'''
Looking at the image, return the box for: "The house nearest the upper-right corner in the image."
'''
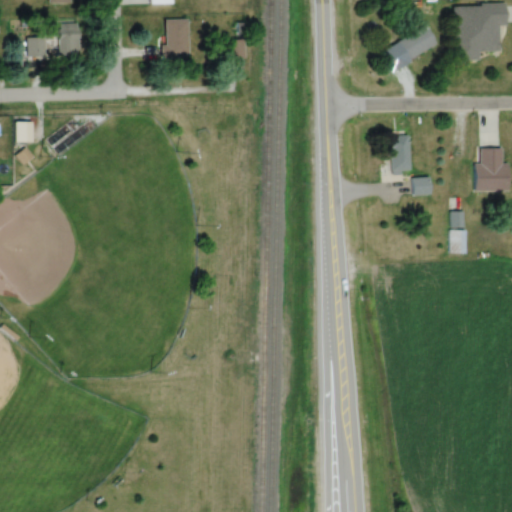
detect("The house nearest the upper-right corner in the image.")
[451,2,507,64]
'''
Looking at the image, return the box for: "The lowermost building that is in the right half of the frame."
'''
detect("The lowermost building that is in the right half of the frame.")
[446,230,468,254]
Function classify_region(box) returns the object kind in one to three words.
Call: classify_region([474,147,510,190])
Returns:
house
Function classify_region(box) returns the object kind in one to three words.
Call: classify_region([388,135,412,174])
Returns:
house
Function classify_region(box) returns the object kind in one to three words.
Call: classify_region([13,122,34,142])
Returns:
building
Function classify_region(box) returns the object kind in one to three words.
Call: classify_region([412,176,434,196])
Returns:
building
